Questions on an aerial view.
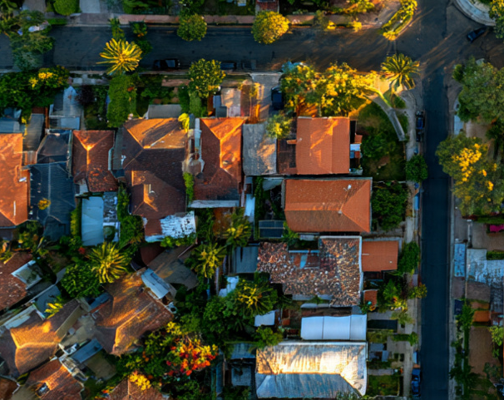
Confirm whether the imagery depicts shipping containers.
No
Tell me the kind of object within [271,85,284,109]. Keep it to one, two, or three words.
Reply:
vehicle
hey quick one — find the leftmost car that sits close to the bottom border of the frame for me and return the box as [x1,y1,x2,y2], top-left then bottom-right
[410,366,423,394]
